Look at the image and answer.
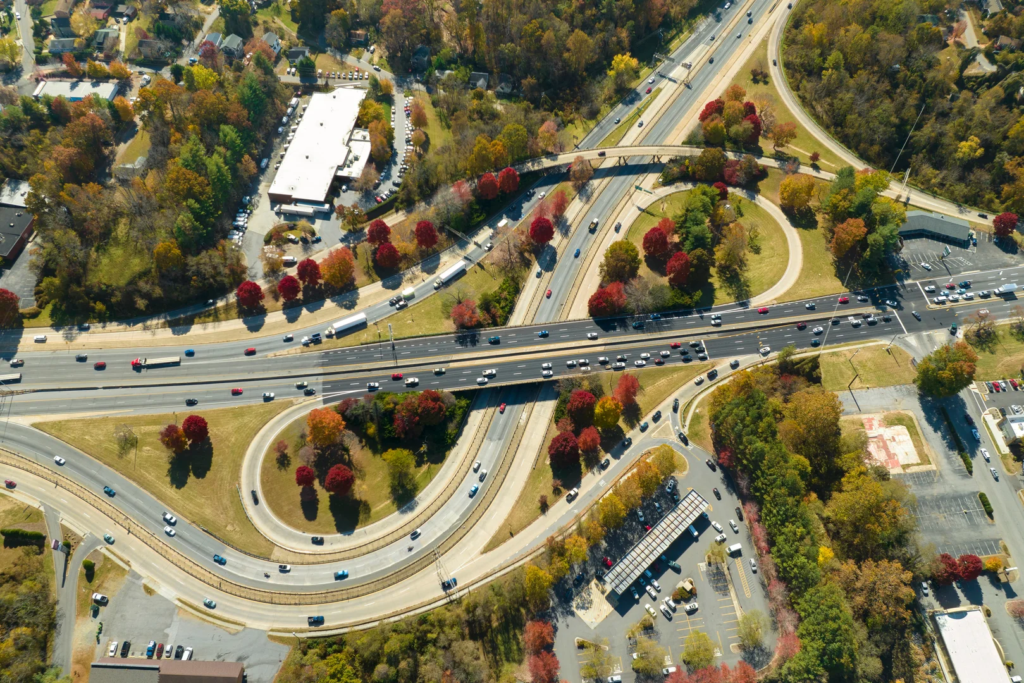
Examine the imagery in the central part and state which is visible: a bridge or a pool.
bridge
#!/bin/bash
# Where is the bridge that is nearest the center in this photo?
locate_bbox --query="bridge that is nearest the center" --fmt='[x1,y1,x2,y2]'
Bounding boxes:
[430,314,623,393]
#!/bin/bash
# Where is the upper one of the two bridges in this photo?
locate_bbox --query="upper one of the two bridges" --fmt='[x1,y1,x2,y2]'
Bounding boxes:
[472,143,779,186]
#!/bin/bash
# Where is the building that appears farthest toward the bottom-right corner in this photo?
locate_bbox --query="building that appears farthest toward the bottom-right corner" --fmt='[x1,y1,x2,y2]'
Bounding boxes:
[927,605,1010,683]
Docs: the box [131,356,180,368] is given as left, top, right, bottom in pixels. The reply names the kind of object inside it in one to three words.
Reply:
vehicle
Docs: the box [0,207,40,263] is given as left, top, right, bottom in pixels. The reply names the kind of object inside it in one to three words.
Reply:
building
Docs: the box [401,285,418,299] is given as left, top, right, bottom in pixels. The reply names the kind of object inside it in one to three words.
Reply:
vehicle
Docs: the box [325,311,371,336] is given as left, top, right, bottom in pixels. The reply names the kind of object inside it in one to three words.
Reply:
truck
